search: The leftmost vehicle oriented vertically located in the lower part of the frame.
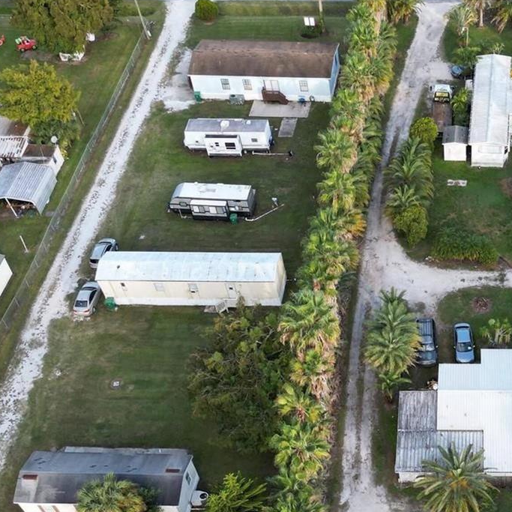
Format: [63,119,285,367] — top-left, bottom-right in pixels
[416,315,438,363]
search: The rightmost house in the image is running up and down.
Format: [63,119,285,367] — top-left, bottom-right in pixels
[470,50,512,164]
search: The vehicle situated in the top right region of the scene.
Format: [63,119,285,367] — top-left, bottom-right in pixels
[432,87,451,121]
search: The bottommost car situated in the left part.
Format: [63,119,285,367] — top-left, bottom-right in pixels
[69,280,102,316]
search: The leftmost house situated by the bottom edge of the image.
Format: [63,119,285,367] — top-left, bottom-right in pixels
[14,442,197,512]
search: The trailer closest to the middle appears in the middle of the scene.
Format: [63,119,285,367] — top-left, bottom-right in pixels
[170,183,269,220]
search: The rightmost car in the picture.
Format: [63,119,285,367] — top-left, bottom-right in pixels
[453,322,476,363]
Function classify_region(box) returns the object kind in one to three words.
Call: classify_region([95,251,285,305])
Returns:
house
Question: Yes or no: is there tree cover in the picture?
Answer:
Yes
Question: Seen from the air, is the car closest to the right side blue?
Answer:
Yes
